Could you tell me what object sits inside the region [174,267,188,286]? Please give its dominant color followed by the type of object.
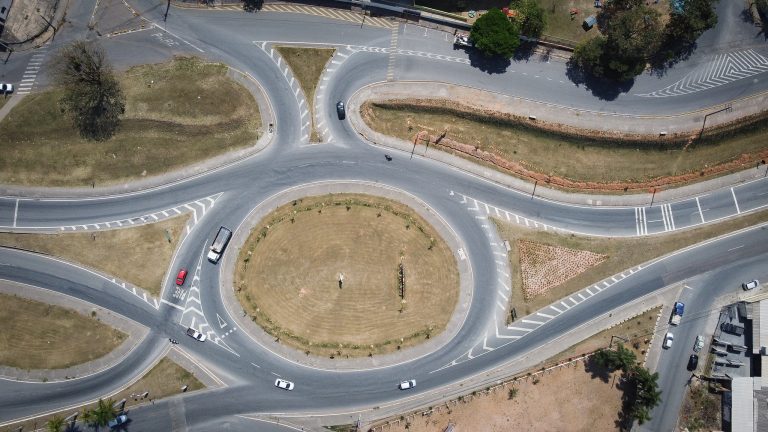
red vehicle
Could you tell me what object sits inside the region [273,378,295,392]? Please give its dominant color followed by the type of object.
white vehicle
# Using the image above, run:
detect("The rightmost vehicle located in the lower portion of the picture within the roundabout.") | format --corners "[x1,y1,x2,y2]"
[398,379,417,392]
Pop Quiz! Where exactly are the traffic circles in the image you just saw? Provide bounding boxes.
[183,146,508,410]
